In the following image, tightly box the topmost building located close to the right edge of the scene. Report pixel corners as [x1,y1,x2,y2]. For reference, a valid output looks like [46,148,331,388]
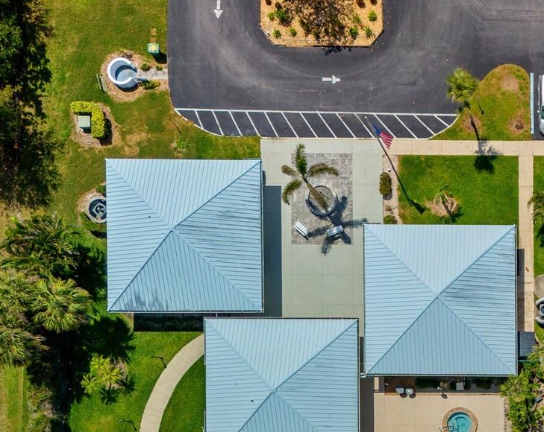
[361,224,520,378]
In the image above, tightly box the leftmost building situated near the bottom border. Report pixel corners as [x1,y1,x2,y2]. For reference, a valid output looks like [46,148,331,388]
[203,316,362,432]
